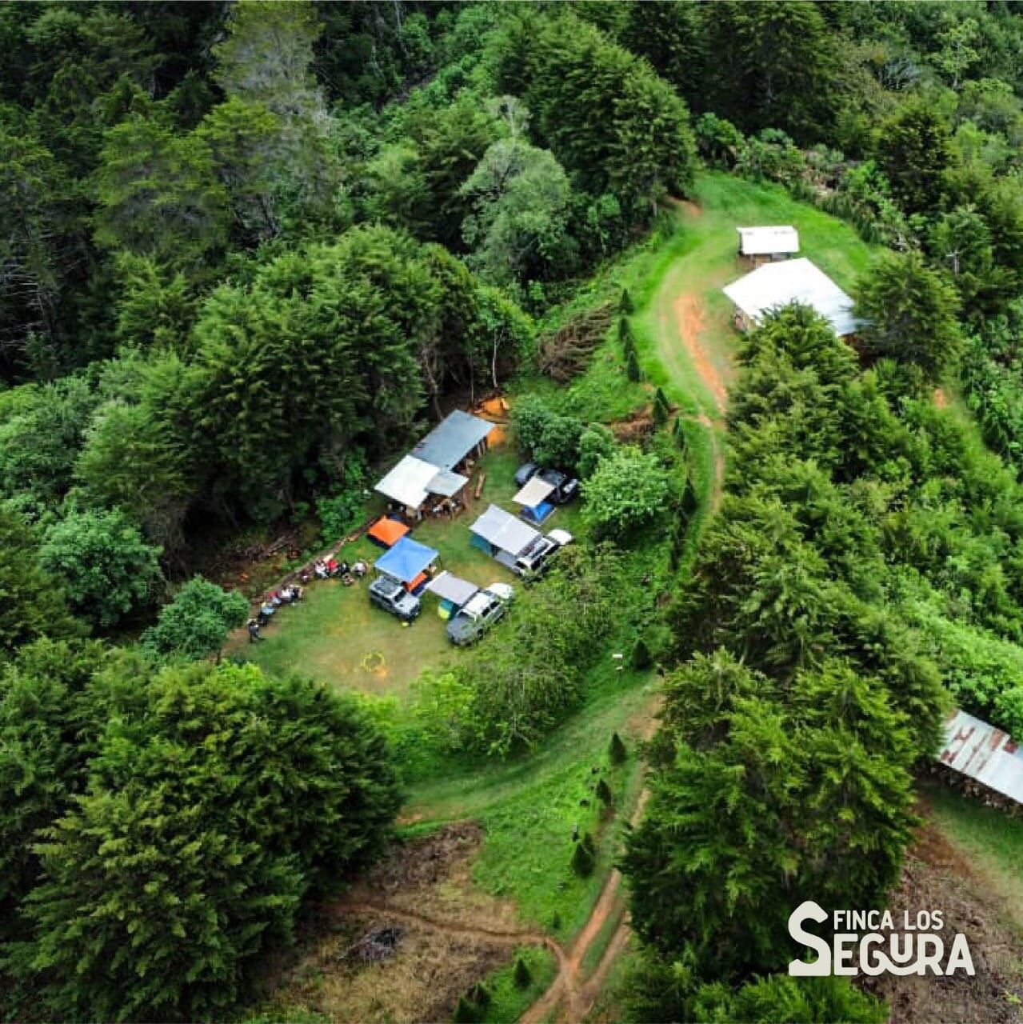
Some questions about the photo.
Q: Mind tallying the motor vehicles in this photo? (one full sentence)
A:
In total, 4 motor vehicles can be seen.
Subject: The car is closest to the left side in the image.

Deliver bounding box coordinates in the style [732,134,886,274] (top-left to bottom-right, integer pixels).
[359,571,434,630]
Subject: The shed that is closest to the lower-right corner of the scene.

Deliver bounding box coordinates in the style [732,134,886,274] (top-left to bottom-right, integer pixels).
[925,714,1023,824]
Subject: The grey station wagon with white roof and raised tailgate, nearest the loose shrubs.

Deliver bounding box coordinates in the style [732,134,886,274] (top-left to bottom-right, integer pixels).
[444,570,523,649]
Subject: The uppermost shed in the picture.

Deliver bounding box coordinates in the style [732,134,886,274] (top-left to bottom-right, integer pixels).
[736,226,800,273]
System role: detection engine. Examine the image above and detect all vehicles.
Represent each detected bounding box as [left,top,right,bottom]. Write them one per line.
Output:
[512,518,577,584]
[506,448,587,503]
[359,571,434,630]
[444,570,523,649]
